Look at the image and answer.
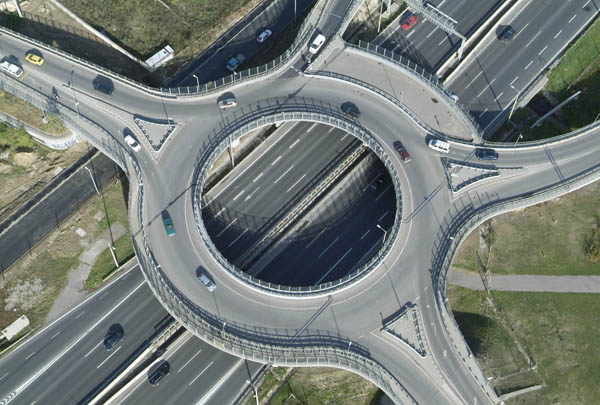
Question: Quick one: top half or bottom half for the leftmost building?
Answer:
bottom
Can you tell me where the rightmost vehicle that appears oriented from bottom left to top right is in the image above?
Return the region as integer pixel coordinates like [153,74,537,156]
[496,25,517,42]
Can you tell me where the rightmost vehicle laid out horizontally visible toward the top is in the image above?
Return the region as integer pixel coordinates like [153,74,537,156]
[475,148,499,160]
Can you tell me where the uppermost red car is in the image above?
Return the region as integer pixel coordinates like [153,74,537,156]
[400,15,419,31]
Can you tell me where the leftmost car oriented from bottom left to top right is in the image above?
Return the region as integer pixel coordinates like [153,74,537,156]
[101,324,125,348]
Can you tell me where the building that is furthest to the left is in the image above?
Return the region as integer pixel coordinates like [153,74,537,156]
[0,315,31,344]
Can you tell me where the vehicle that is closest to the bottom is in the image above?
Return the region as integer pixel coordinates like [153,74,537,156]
[148,360,172,384]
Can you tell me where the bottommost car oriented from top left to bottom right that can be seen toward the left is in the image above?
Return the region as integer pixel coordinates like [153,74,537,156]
[197,269,217,292]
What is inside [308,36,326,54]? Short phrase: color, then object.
white car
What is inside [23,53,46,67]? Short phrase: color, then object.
yellow car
